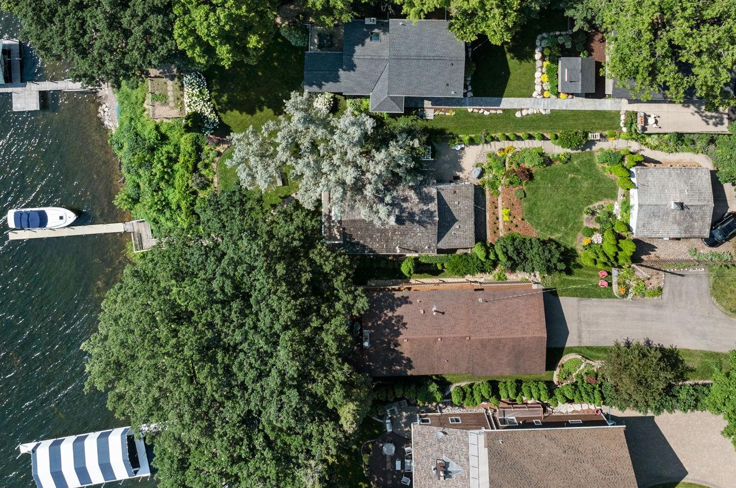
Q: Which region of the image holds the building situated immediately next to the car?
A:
right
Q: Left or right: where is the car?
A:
right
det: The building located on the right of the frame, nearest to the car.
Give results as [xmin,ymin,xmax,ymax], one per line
[630,166,715,239]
